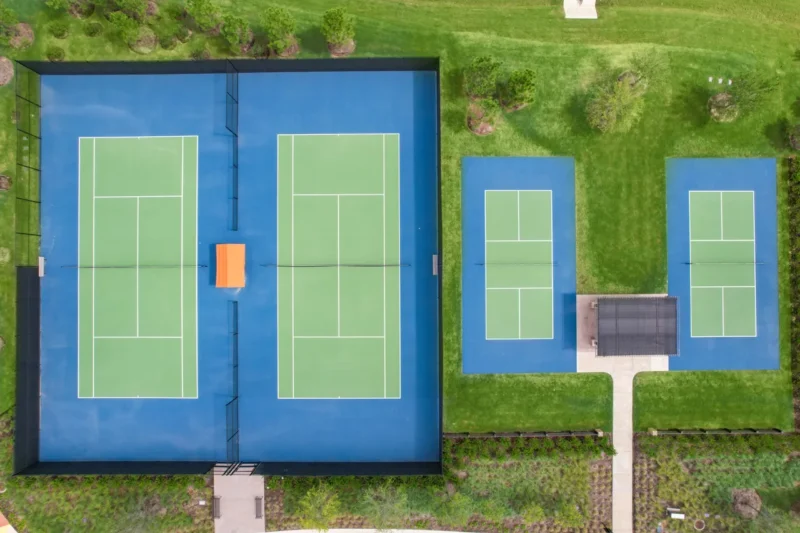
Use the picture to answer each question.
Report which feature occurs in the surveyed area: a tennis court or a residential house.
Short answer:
tennis court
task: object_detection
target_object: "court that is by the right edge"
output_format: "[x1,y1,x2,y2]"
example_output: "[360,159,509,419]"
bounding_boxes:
[666,158,780,371]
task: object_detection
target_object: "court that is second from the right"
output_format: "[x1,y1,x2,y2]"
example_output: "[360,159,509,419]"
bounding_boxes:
[462,157,577,374]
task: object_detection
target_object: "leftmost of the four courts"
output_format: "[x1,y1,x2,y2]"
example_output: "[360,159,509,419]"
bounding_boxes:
[39,72,238,462]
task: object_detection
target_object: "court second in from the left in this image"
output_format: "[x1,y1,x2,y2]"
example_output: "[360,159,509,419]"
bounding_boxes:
[238,70,439,462]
